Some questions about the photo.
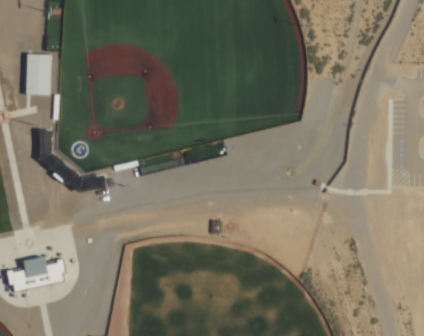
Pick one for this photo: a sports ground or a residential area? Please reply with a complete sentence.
The area seen from above is a sports ground.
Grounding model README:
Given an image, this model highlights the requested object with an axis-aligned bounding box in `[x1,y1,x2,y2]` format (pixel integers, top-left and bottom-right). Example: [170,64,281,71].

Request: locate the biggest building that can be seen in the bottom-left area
[7,256,66,291]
